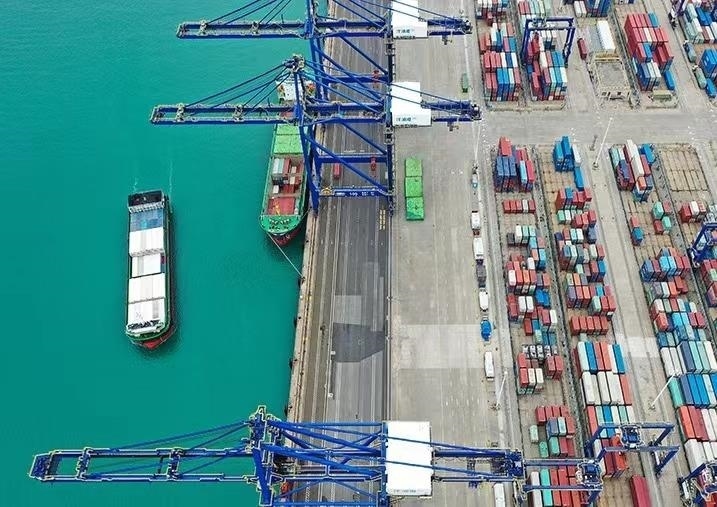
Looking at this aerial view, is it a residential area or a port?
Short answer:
port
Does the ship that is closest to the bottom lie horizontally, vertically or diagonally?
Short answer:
vertically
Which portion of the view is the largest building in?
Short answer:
top right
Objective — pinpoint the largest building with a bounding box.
[592,60,632,99]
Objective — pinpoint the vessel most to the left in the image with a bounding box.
[127,189,177,352]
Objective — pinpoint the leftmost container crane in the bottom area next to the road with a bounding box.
[20,409,521,507]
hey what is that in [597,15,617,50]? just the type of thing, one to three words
shed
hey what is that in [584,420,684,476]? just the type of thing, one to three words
container crane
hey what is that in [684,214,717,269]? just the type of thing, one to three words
container crane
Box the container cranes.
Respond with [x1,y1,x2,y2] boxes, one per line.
[684,214,717,269]
[20,409,521,507]
[520,17,578,67]
[584,420,684,476]
[513,455,606,507]
[145,48,482,218]
[679,459,717,507]
[172,0,473,131]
